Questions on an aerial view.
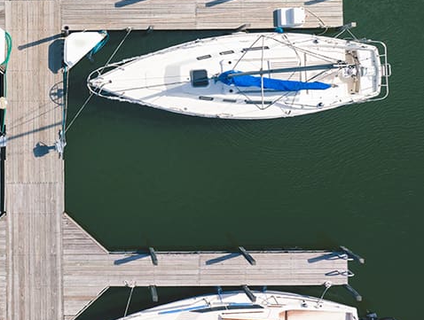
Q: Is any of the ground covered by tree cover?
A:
No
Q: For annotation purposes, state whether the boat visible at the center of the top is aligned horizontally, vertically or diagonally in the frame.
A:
horizontally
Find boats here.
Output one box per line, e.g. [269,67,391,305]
[87,34,391,120]
[121,294,392,320]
